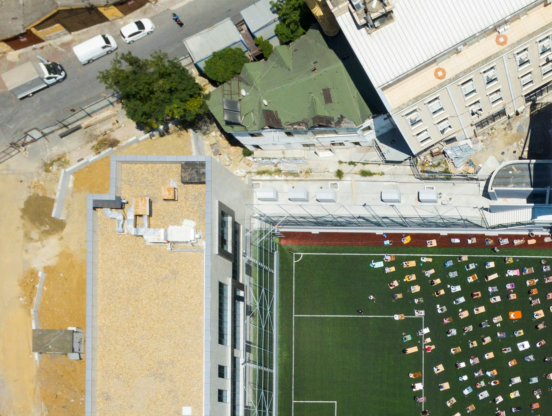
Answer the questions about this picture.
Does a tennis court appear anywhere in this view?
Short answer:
No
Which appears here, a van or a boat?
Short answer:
van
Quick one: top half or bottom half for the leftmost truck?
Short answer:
top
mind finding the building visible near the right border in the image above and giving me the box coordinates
[354,0,552,152]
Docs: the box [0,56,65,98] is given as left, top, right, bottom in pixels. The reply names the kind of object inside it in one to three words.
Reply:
truck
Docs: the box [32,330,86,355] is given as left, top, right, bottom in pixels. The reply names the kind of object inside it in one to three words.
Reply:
shed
